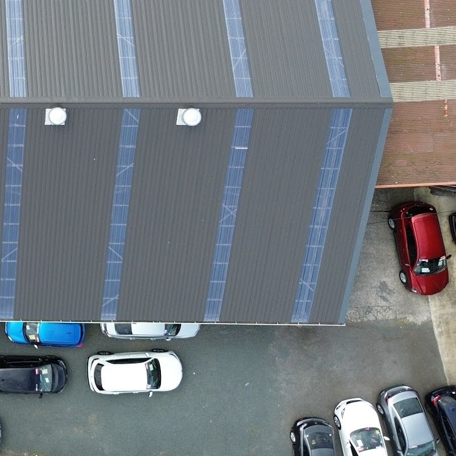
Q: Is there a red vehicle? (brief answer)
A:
Yes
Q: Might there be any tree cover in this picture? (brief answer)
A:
No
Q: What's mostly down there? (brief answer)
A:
buildings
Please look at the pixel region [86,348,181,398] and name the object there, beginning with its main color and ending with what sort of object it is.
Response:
white car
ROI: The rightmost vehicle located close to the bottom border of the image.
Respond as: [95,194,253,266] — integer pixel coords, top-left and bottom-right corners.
[426,382,456,456]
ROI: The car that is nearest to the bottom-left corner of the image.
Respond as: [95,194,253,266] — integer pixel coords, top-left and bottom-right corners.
[0,353,66,400]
